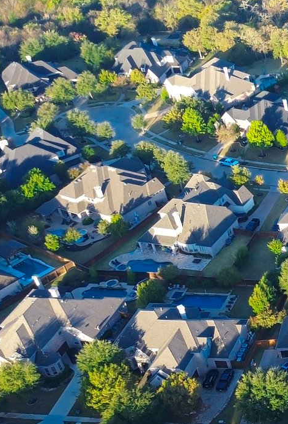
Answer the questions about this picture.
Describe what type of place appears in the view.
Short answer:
residential area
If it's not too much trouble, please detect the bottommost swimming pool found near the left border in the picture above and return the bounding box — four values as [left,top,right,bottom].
[10,257,49,280]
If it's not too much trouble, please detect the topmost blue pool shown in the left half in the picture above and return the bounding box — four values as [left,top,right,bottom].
[50,226,91,244]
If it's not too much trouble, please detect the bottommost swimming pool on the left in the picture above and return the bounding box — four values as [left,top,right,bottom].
[81,277,130,299]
